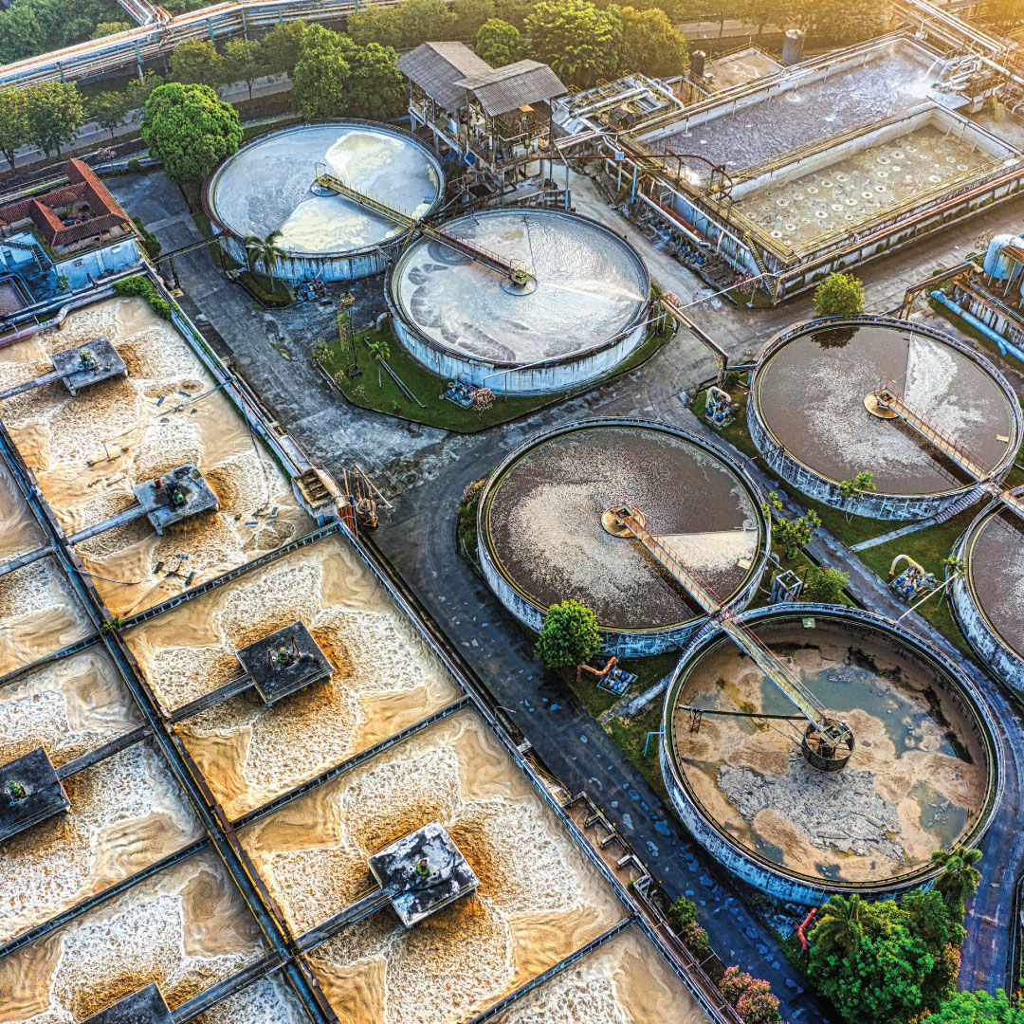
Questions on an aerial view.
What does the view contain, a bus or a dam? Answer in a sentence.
It is a dam that can be seen here.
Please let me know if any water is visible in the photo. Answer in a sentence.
Yes, there is water in the image.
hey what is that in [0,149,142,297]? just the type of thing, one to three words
house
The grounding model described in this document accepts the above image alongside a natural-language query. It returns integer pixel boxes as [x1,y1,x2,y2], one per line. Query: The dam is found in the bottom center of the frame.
[558,791,668,915]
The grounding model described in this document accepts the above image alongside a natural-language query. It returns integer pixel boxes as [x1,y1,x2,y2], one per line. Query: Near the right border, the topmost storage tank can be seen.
[981,239,1024,301]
